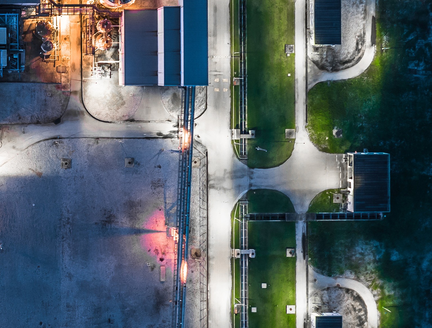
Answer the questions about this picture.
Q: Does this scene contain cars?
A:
No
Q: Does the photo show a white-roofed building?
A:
No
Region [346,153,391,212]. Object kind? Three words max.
shed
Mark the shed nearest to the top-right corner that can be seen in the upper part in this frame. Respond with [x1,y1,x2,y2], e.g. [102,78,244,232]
[309,0,341,45]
